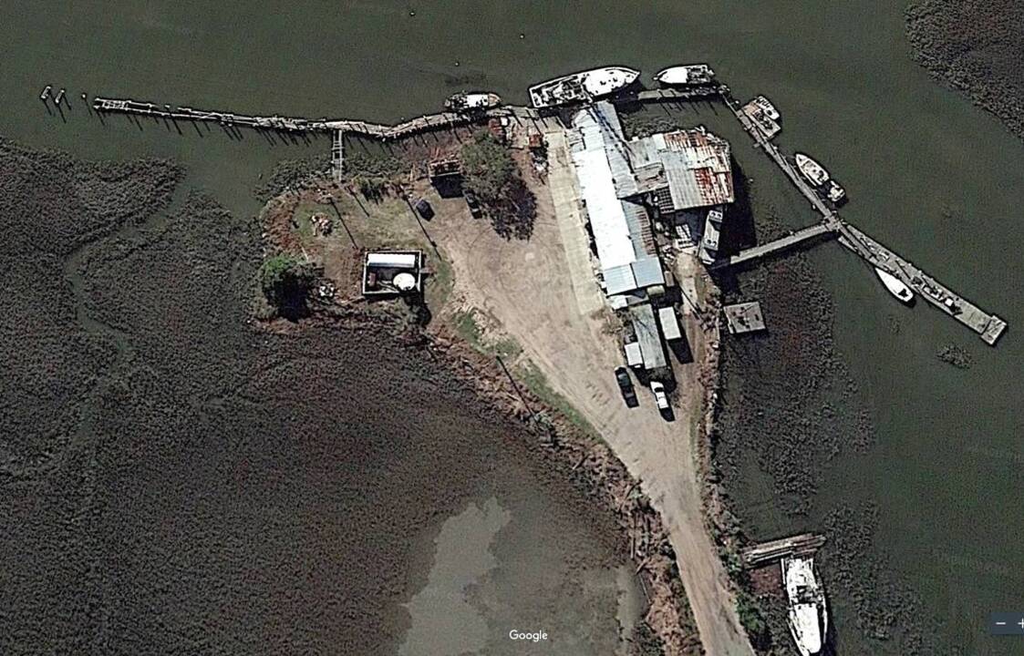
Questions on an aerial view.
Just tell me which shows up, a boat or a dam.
boat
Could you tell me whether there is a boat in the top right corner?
Yes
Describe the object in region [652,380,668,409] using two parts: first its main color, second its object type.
white vehicle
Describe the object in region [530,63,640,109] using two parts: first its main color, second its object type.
white boat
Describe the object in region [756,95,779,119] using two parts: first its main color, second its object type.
white boat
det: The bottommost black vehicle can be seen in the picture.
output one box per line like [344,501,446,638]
[613,366,632,397]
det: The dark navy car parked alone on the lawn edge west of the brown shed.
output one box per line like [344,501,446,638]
[416,196,432,218]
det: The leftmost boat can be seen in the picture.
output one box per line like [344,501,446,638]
[445,92,501,110]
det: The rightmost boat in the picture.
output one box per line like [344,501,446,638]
[875,266,913,304]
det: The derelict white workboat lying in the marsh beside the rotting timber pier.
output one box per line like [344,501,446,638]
[787,557,825,656]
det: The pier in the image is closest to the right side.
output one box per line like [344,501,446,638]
[981,315,1006,345]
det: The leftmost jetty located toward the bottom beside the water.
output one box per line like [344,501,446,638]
[745,532,825,584]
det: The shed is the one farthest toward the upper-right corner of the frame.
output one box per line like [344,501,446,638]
[629,127,734,211]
